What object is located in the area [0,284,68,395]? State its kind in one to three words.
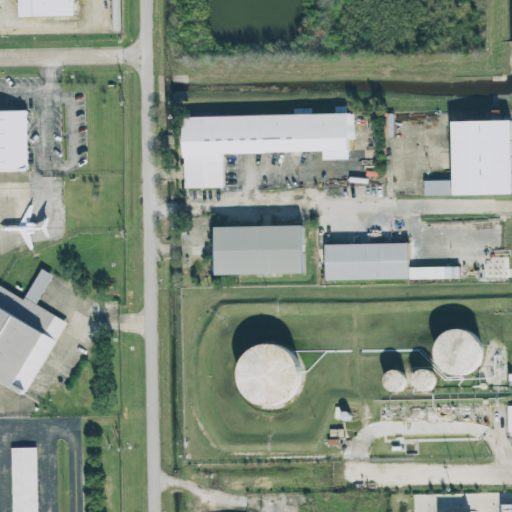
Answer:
hangar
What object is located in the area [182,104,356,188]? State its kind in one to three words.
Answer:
building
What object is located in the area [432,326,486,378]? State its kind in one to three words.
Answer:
storage tank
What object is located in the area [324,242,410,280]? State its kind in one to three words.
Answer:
shed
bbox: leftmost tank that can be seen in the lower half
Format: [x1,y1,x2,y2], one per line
[235,344,301,406]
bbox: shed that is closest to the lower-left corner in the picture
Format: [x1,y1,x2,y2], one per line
[12,447,40,512]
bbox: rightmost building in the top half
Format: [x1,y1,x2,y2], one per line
[450,120,512,196]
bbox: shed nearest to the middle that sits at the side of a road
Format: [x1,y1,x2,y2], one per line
[212,225,306,276]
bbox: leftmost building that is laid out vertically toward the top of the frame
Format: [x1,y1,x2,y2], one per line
[0,110,30,172]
